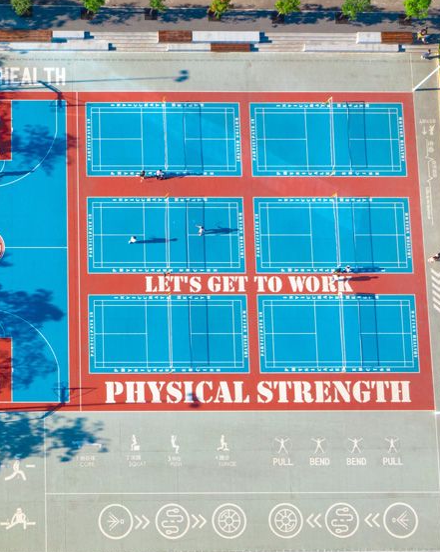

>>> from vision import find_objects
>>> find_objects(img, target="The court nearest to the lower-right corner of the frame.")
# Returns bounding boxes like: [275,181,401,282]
[257,294,420,374]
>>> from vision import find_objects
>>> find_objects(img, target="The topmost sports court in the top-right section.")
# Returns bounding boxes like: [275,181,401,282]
[249,103,408,177]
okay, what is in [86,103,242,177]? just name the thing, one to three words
sports court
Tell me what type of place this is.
sports ground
